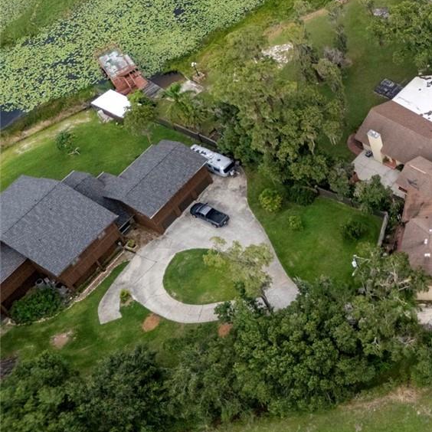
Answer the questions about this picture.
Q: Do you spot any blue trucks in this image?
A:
No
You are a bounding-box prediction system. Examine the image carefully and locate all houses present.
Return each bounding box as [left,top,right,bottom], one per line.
[0,141,214,315]
[355,74,432,296]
